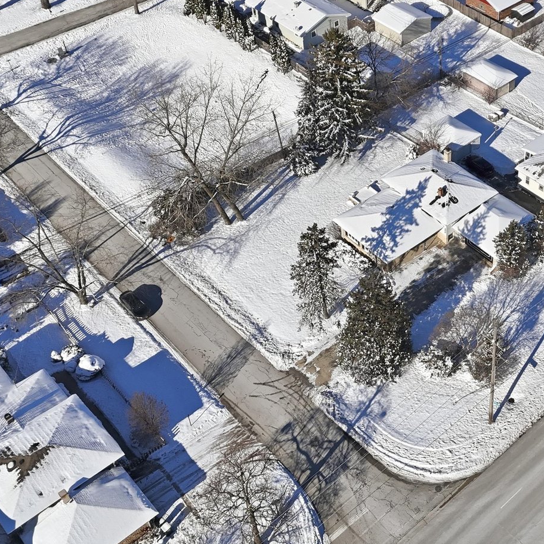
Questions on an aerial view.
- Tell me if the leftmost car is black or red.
black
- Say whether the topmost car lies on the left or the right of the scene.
right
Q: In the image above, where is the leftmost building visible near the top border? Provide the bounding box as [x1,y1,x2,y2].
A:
[245,0,351,51]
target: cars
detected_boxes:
[118,291,151,321]
[462,153,496,180]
